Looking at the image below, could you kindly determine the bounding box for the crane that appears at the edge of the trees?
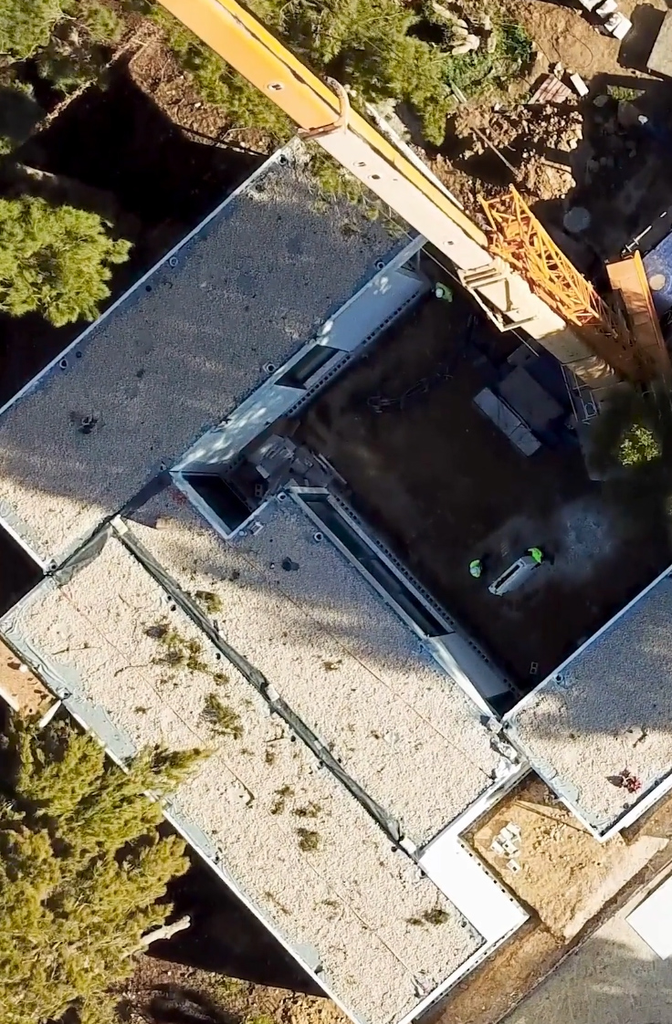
[155,0,672,523]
